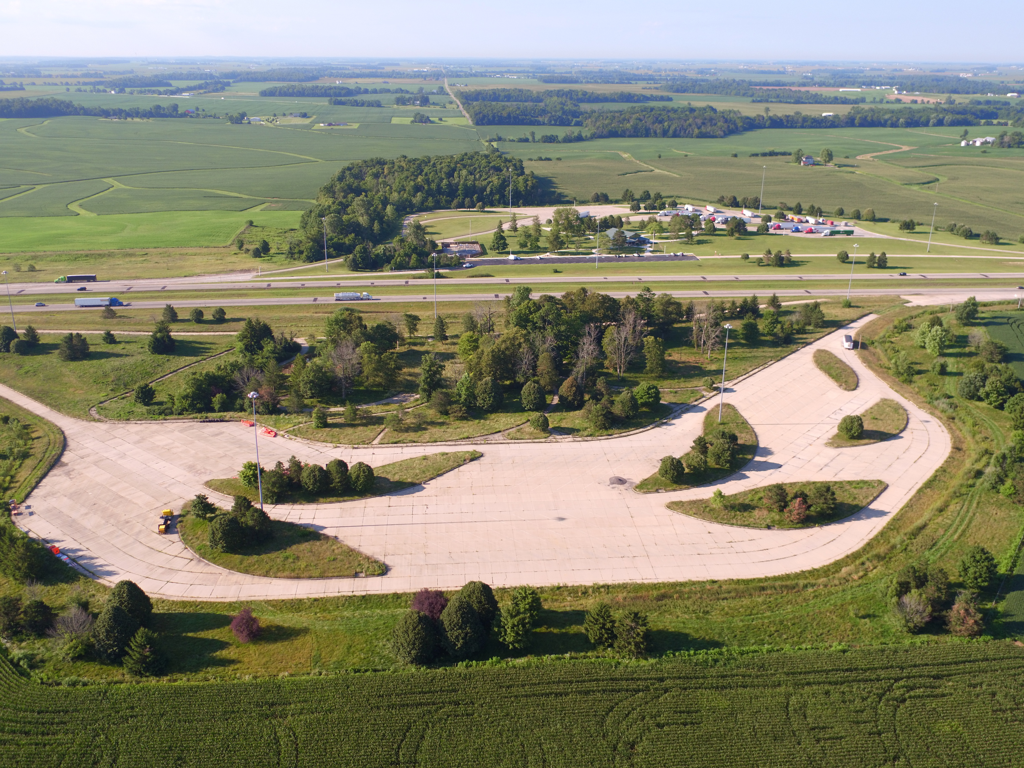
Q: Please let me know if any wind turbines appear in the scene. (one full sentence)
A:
No, there appears to be no wind turbine in this shot.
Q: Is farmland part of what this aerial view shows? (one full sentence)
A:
Yes, some farmland is visible.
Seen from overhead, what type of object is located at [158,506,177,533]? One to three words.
vehicle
